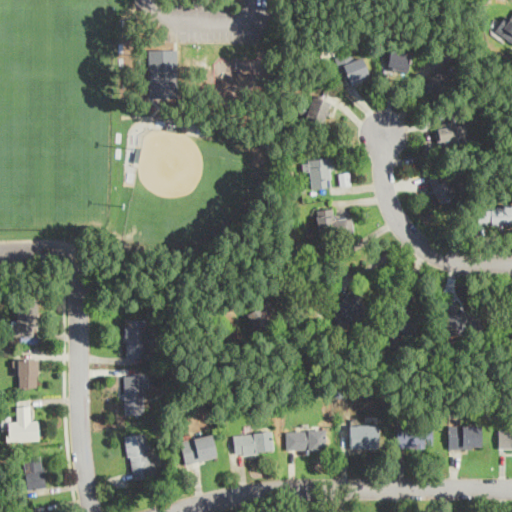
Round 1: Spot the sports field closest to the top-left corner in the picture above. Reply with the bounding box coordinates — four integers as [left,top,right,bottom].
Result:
[0,0,110,229]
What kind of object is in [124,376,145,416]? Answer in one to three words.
house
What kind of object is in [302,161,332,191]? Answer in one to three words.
house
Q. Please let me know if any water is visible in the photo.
No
